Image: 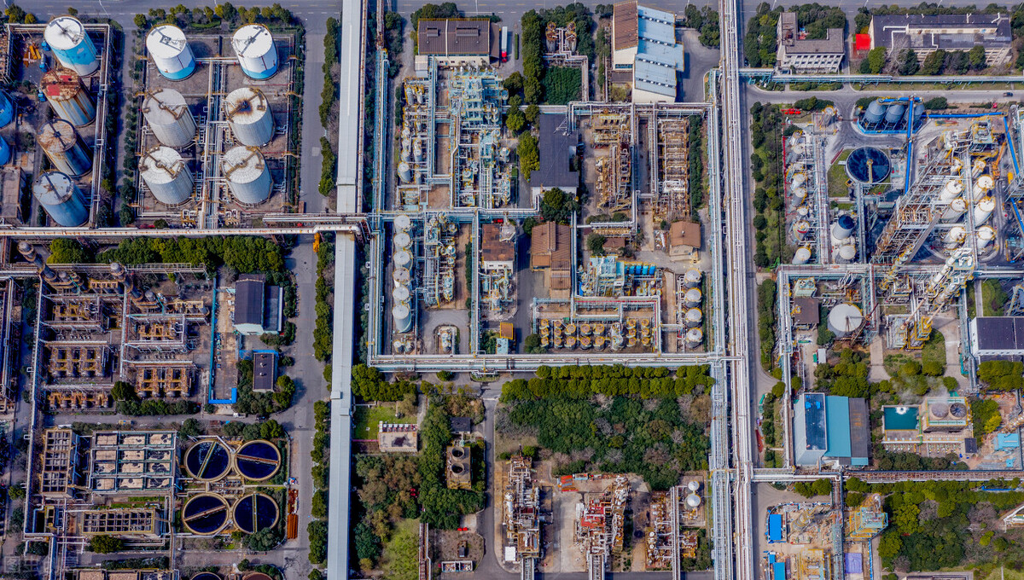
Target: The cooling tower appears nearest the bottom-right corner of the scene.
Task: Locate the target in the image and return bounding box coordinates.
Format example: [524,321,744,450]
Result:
[921,396,968,432]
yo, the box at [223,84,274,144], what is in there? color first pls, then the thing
white storage tank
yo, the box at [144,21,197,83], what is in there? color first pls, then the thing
white storage tank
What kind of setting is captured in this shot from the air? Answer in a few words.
industrial area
